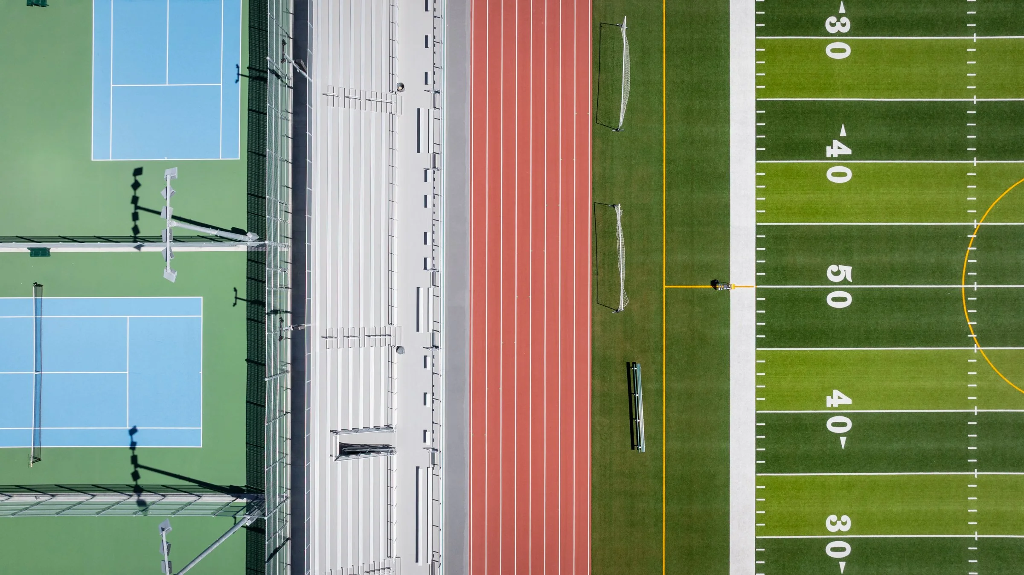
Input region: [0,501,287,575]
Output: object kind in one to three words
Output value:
tennis court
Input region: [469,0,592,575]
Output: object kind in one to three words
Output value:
running track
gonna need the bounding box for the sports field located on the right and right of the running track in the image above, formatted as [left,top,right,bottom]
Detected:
[591,0,1024,575]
